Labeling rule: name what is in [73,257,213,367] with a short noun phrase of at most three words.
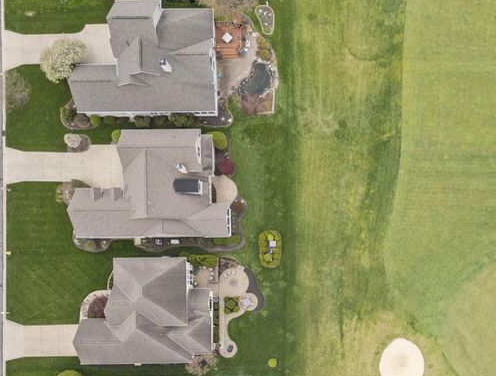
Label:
house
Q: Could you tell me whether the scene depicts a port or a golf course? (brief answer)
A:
golf course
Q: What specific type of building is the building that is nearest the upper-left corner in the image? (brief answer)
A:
residential house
